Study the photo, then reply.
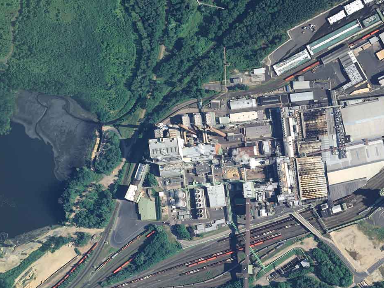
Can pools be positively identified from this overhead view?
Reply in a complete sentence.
No, I can't see a single pool in this photo.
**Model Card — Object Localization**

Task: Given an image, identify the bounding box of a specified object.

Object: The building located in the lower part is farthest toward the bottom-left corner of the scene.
[138,197,159,221]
